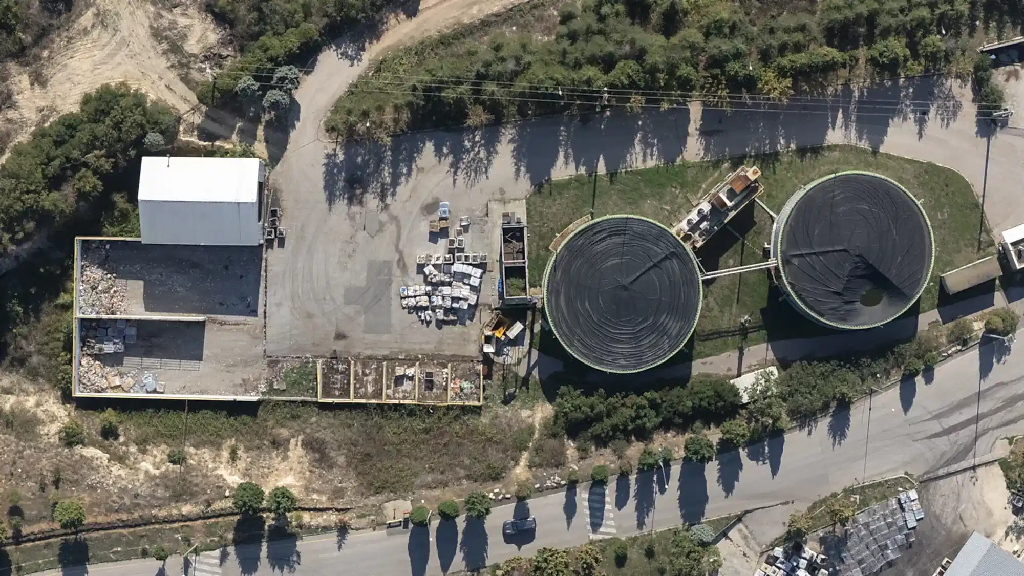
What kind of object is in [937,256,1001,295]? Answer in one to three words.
shed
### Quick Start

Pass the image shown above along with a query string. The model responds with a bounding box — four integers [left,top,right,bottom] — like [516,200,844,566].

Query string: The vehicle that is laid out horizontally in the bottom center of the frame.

[503,517,536,535]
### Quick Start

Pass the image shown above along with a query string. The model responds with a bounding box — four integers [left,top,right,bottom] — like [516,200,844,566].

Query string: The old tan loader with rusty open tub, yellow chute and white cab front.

[483,313,509,354]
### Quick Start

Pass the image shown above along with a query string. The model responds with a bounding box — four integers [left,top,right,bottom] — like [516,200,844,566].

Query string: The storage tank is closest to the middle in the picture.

[540,211,703,376]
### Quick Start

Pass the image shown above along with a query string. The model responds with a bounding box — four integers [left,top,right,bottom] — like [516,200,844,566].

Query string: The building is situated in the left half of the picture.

[136,156,268,246]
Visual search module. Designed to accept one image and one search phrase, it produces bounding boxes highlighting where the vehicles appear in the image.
[483,313,509,354]
[503,517,536,535]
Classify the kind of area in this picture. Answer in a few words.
industrial area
